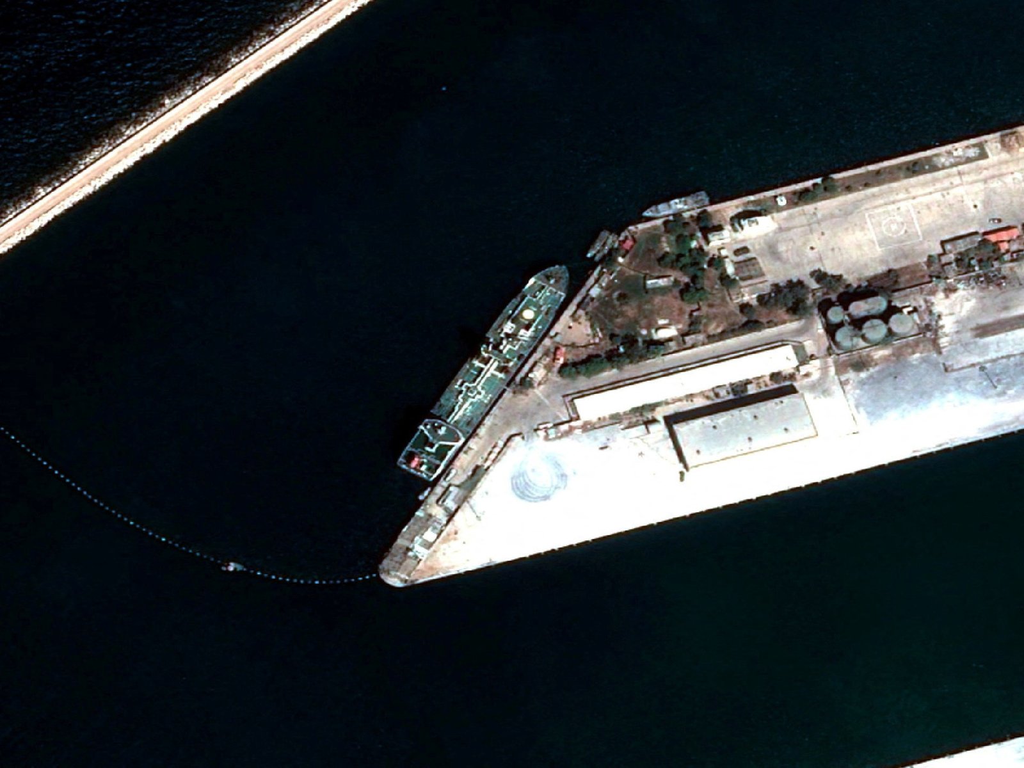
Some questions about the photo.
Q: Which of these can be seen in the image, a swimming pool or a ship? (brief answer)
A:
ship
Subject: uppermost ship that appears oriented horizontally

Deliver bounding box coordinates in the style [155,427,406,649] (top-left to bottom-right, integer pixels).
[642,191,709,217]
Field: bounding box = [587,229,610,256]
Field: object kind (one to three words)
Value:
boat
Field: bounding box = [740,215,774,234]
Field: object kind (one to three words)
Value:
building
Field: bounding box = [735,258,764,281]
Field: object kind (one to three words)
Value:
building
